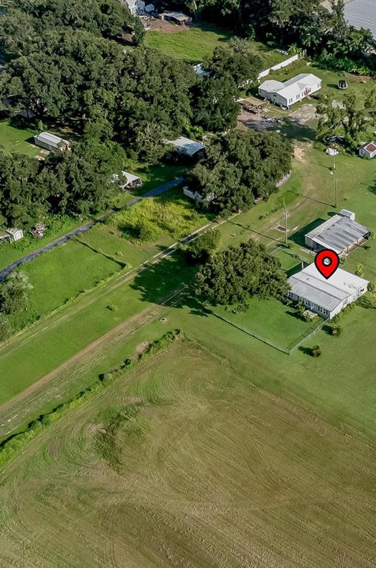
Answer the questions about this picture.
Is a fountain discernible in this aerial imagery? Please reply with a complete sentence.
No, the picture doesn't show any fountain.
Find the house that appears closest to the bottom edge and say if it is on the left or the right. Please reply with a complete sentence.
You can find the house that appears closest to the bottom edge on the right side of the picture.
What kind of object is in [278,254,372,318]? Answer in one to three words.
house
